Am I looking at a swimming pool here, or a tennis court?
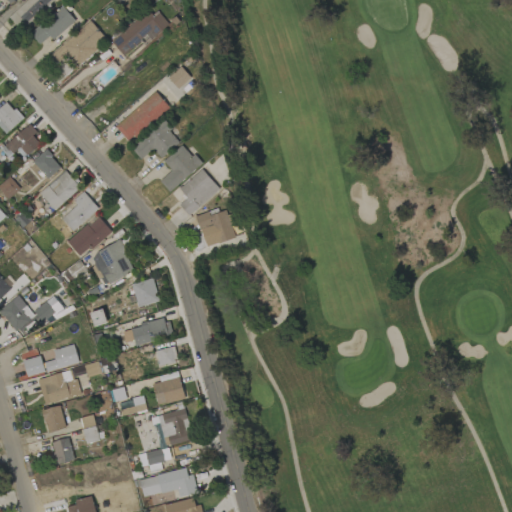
swimming pool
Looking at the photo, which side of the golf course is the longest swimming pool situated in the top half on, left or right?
left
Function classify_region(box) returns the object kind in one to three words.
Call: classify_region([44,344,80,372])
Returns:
house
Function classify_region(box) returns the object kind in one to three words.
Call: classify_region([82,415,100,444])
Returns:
shed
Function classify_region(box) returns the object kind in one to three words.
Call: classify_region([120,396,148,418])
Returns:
shed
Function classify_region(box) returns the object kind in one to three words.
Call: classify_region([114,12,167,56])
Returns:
house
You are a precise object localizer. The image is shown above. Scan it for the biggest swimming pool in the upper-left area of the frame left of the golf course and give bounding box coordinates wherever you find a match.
[92,62,121,88]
